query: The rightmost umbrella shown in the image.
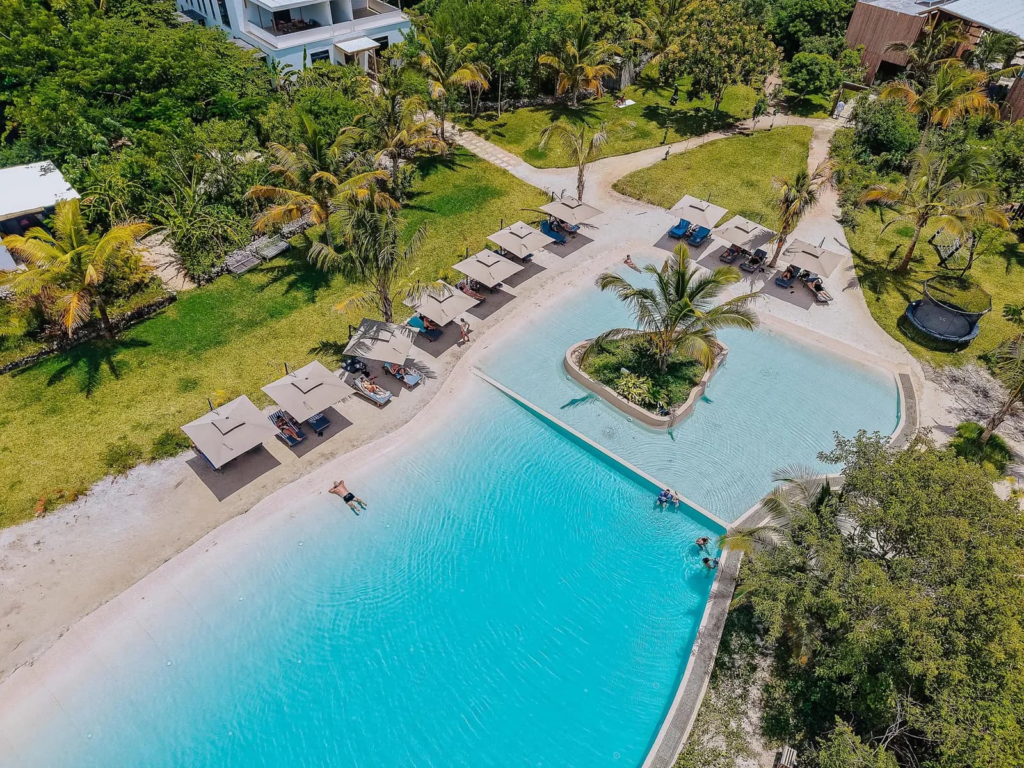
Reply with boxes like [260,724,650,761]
[777,234,844,280]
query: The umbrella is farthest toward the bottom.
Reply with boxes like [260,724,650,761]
[181,393,282,467]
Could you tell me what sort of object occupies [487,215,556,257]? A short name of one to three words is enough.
umbrella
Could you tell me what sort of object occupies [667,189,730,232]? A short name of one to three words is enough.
umbrella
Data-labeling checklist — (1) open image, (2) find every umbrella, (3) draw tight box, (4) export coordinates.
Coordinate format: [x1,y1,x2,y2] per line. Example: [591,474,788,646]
[453,244,523,291]
[710,211,777,256]
[342,318,419,375]
[406,276,479,327]
[542,189,602,233]
[667,189,730,232]
[487,215,556,257]
[777,234,844,280]
[262,358,357,425]
[181,393,282,467]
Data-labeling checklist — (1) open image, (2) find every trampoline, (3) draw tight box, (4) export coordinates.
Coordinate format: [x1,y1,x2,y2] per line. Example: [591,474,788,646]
[902,277,990,347]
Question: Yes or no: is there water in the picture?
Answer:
Yes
